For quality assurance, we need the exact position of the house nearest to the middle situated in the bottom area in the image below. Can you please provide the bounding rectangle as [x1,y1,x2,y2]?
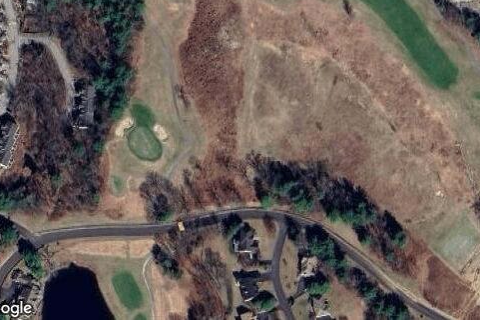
[236,223,260,254]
